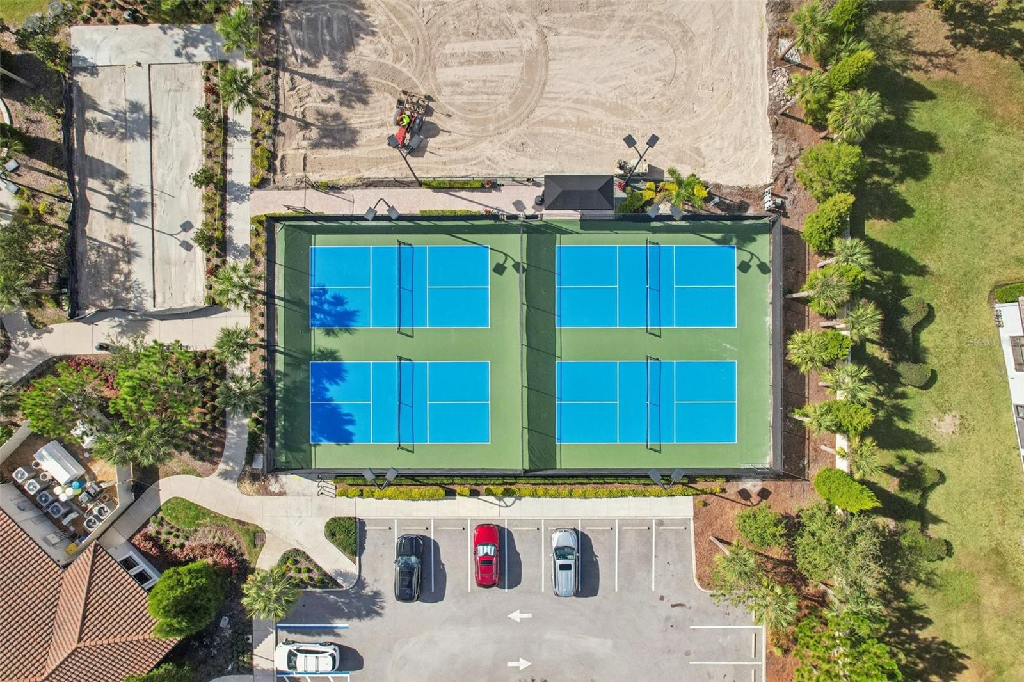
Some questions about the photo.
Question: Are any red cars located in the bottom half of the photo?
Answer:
Yes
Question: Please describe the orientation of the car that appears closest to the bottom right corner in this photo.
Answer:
from top to bottom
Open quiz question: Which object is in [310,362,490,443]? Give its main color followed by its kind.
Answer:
blue sports court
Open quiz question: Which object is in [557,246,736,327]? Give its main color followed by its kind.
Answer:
blue sports court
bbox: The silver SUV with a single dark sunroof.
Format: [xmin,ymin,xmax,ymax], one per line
[549,527,582,596]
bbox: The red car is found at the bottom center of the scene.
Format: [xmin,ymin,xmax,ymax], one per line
[471,522,503,587]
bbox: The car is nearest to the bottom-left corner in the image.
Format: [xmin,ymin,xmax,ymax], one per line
[275,640,340,676]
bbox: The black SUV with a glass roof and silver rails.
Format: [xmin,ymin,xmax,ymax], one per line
[392,532,425,603]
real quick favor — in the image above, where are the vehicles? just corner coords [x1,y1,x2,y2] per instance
[393,84,431,111]
[549,527,582,596]
[471,522,503,587]
[275,640,340,676]
[392,532,425,603]
[388,100,422,149]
